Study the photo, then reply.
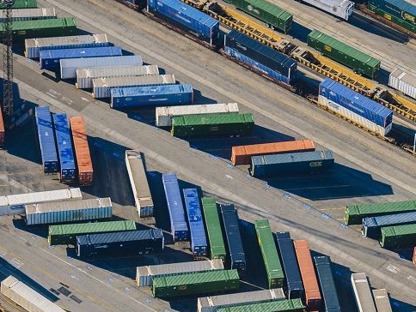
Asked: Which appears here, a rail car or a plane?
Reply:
rail car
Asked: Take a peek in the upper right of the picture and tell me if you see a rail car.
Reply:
Yes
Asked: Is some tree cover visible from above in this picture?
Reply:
No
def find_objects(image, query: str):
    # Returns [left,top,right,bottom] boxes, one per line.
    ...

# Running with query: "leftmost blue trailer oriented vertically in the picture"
[35,106,58,175]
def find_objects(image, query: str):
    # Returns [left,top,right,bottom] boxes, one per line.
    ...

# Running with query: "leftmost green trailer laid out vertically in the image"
[201,196,227,268]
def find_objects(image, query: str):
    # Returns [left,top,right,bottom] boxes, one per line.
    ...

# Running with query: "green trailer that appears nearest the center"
[171,113,255,139]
